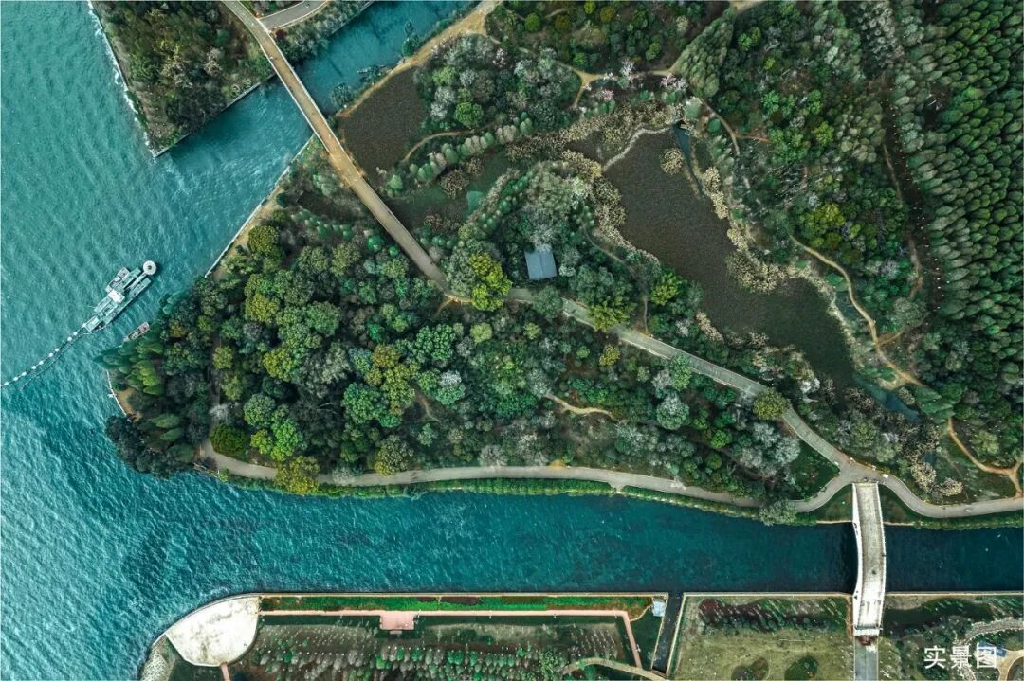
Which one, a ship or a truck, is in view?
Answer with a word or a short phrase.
ship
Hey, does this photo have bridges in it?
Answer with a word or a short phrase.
Yes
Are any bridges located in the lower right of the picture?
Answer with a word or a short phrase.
Yes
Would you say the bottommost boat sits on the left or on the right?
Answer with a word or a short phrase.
left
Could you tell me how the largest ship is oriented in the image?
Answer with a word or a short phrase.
at an angle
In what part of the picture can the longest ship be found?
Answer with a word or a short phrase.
left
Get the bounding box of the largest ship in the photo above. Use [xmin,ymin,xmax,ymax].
[86,260,156,332]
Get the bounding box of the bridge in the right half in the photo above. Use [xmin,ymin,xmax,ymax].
[851,483,889,636]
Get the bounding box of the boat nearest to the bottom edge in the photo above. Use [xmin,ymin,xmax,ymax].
[127,322,150,342]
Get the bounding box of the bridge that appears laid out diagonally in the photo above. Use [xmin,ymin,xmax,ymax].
[270,51,370,192]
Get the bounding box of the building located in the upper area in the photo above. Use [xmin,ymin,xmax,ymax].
[525,246,558,280]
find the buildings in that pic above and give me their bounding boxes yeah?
[525,246,558,280]
[653,601,667,619]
